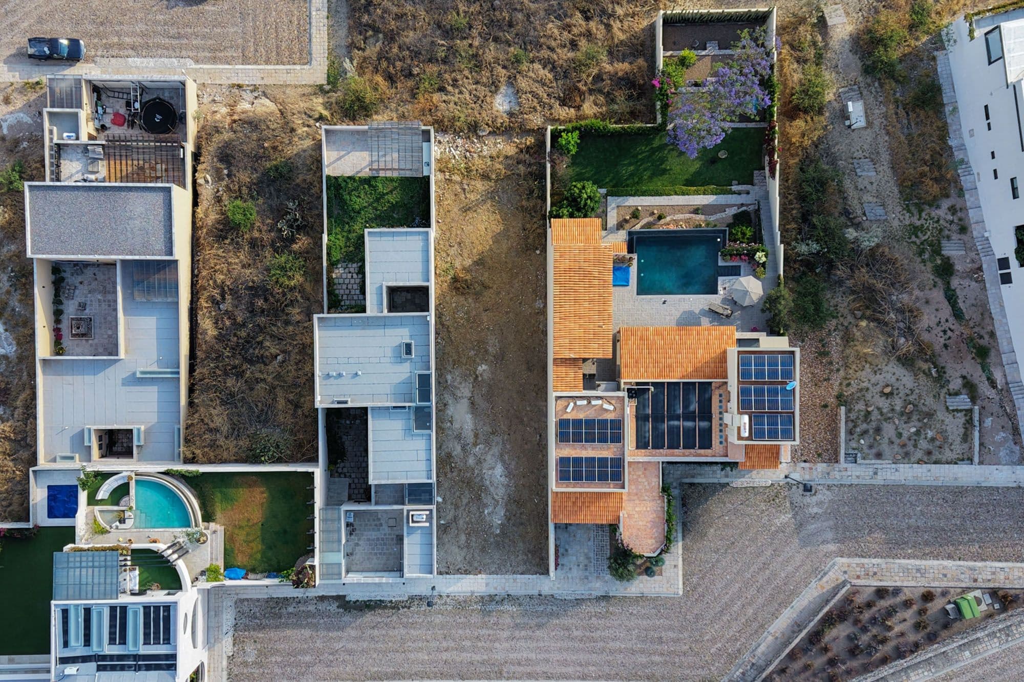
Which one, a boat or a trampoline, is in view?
trampoline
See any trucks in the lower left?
No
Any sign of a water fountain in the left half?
Yes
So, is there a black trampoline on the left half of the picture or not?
Yes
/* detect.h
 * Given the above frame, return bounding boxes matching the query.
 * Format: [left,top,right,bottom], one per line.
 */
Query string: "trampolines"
[134,91,182,140]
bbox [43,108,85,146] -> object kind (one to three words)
building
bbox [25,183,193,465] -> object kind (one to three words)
house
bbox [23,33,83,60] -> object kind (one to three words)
truck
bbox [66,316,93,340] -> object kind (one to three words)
fountain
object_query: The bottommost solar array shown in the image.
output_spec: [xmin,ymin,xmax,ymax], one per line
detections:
[559,457,622,482]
